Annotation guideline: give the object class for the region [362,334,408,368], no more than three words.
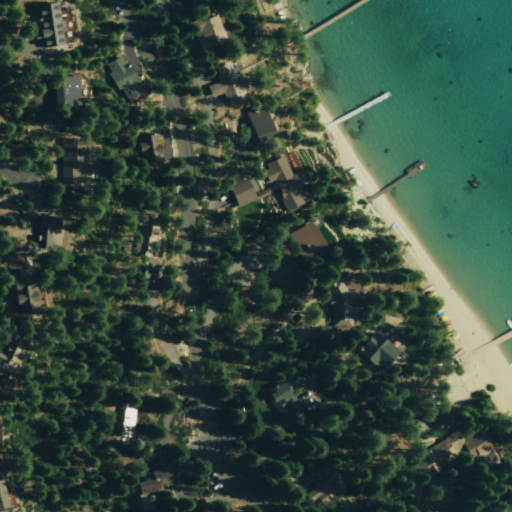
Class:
house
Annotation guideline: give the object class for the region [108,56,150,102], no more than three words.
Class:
house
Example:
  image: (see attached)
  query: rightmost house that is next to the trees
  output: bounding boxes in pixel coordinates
[464,438,502,464]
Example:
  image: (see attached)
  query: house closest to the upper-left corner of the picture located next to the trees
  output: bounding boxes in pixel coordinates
[38,1,78,50]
